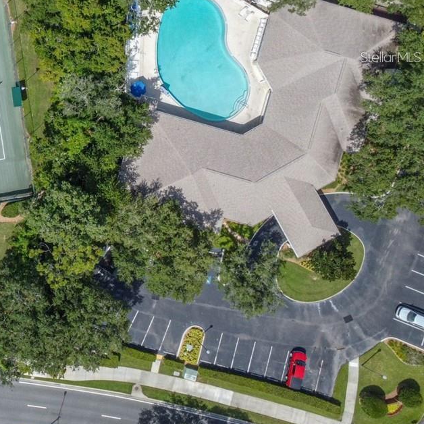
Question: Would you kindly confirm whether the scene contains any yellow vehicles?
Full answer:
No, the frame has no yellow vehicle in it.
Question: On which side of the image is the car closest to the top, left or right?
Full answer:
The car closest to the top sits on the right side.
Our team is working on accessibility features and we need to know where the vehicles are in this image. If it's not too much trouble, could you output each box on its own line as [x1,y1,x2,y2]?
[286,349,308,390]
[393,307,424,328]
